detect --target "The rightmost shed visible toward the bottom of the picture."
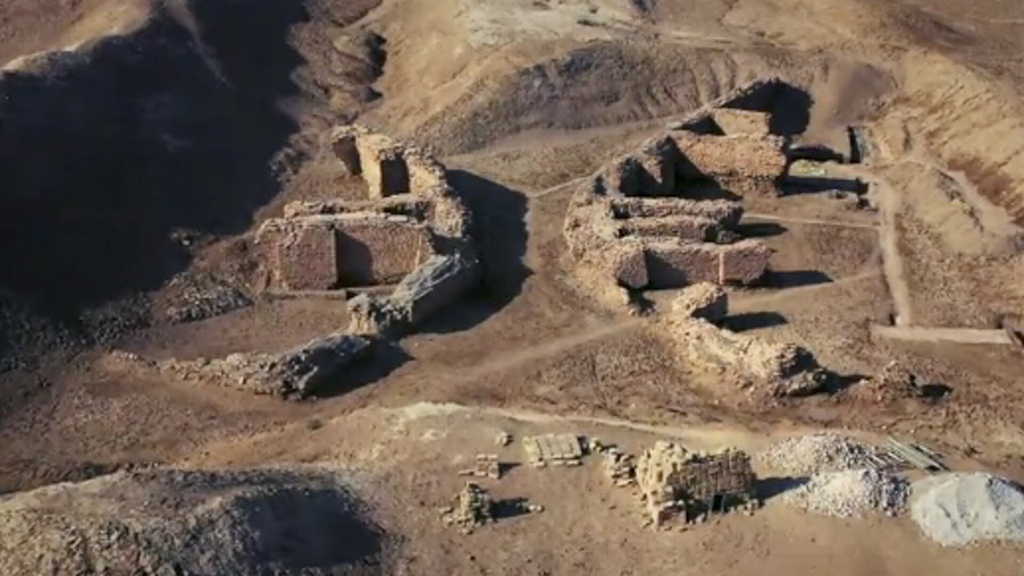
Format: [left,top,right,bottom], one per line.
[680,448,764,513]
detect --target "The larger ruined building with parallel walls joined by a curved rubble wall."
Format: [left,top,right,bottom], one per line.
[517,79,787,330]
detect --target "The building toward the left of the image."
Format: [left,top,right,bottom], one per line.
[253,124,497,335]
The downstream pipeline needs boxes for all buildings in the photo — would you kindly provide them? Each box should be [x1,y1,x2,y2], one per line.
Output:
[680,448,764,513]
[517,79,787,330]
[253,124,497,335]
